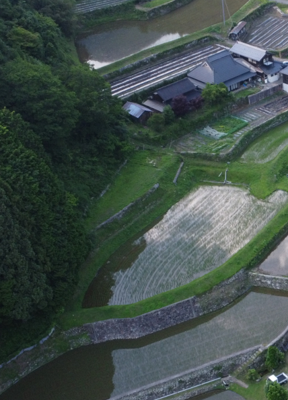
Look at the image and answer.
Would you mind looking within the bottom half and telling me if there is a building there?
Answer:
No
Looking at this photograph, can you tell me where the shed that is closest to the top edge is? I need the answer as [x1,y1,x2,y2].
[227,19,247,47]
